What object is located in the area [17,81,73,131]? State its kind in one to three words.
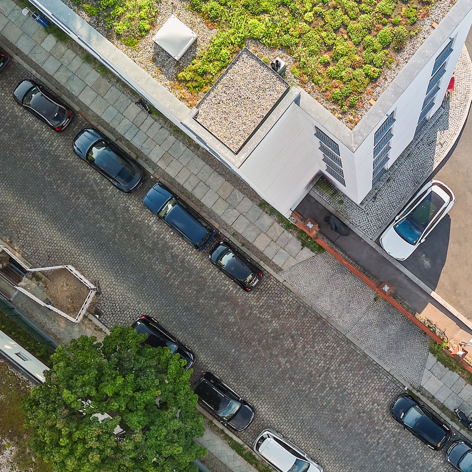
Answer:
car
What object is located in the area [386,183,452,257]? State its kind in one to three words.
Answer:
car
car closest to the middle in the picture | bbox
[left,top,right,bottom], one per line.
[212,243,263,291]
